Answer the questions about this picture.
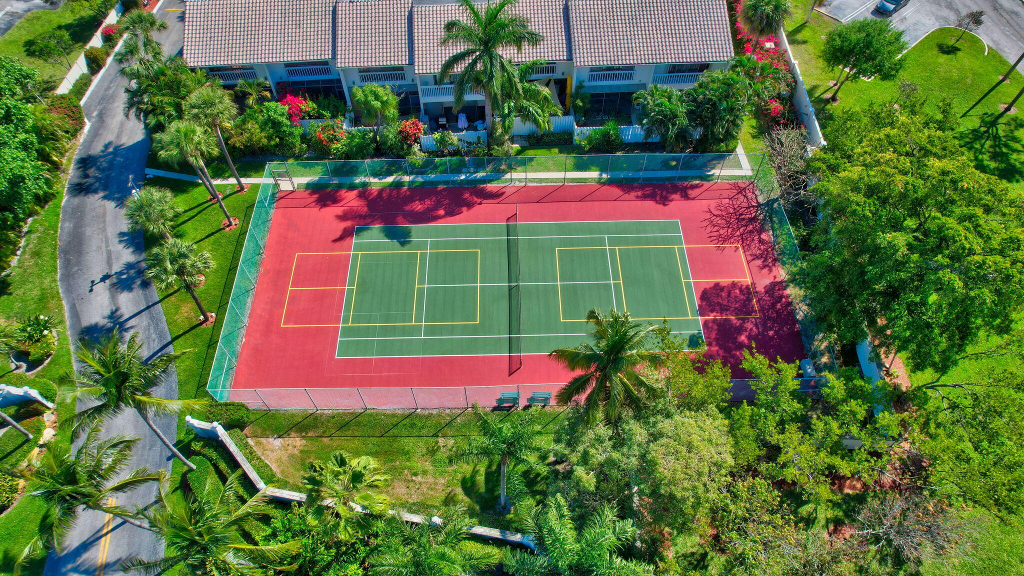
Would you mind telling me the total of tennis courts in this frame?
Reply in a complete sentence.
The photo contains exactly 1 tennis court.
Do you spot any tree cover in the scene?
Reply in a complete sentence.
Yes, the picture does contain tree cover.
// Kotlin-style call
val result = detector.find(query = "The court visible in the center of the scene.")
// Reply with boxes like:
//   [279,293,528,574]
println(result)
[229,180,813,411]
